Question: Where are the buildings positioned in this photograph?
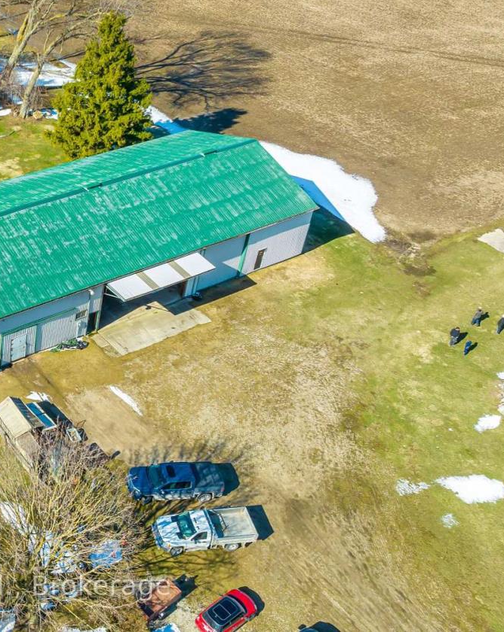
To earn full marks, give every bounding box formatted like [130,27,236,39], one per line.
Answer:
[0,395,66,488]
[0,128,321,366]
